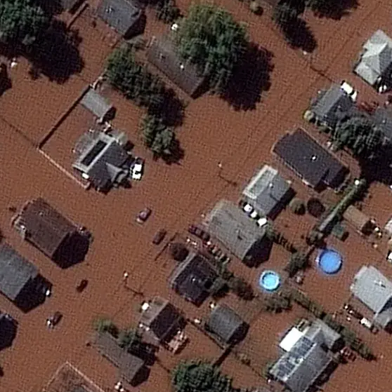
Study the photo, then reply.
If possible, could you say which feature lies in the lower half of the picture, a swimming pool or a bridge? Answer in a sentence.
What appears in the lower half of the picture is a swimming pool.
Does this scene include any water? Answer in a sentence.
Yes, there is water in the image.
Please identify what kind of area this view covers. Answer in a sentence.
This looks like a residential area.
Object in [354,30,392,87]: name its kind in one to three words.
house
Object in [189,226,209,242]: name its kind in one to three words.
car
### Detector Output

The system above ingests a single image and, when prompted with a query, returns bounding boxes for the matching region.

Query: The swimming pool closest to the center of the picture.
[259,270,282,291]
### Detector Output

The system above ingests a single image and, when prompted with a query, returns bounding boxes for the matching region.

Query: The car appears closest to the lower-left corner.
[46,309,65,328]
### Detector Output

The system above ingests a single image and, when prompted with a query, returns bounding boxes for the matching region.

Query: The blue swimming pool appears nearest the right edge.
[317,250,344,273]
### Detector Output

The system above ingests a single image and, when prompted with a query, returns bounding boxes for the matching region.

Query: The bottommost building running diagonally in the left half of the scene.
[89,332,147,381]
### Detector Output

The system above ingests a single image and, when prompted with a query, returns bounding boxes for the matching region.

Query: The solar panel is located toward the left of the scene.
[80,142,107,168]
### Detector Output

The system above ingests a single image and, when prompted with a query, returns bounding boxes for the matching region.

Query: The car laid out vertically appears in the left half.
[130,160,143,181]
